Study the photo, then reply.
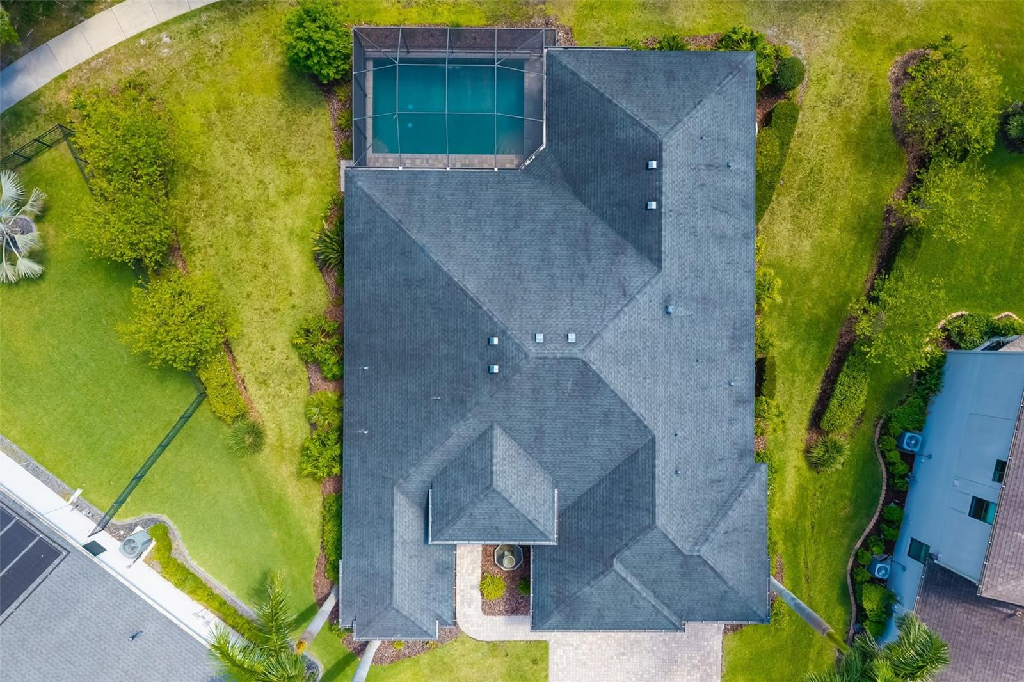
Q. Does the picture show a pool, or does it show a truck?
pool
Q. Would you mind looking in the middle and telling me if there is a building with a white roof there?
No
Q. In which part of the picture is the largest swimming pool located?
top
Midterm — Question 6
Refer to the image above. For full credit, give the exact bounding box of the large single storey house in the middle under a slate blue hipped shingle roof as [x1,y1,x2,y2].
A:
[340,47,771,646]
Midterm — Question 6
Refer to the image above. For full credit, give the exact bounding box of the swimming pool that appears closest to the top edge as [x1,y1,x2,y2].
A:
[373,60,525,154]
